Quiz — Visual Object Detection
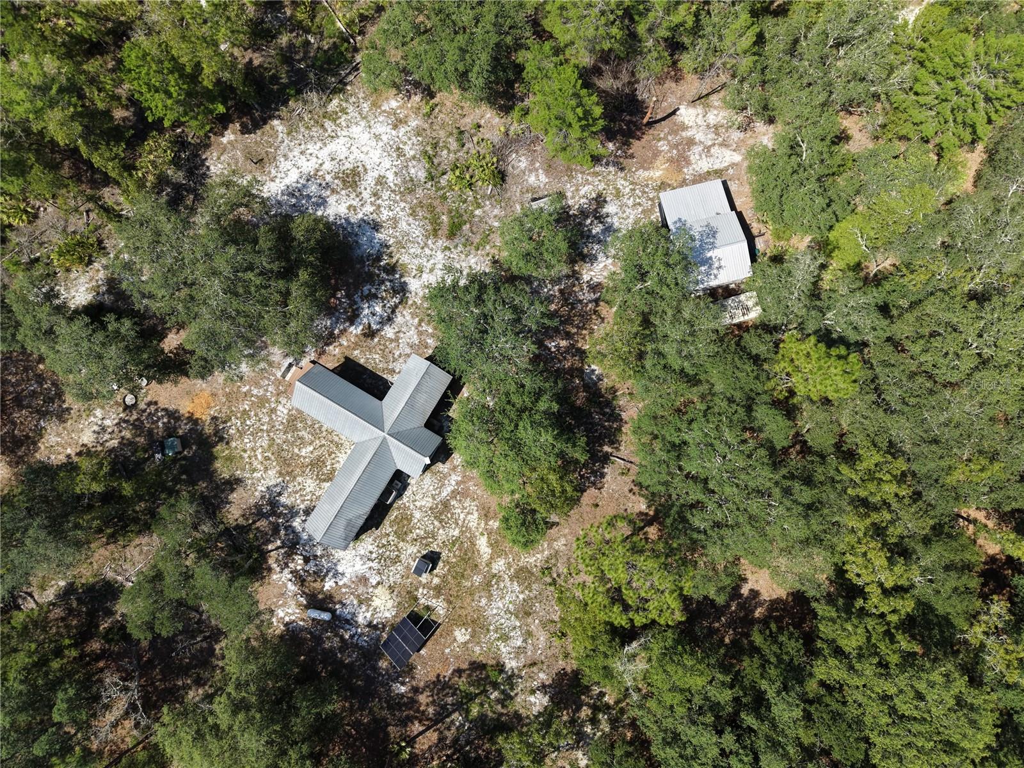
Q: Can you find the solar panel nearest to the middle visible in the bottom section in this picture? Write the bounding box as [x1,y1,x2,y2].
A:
[413,556,432,576]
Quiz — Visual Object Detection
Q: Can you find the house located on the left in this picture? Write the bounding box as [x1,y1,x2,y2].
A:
[291,348,451,551]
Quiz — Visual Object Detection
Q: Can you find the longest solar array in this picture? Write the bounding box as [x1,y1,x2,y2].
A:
[380,600,453,670]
